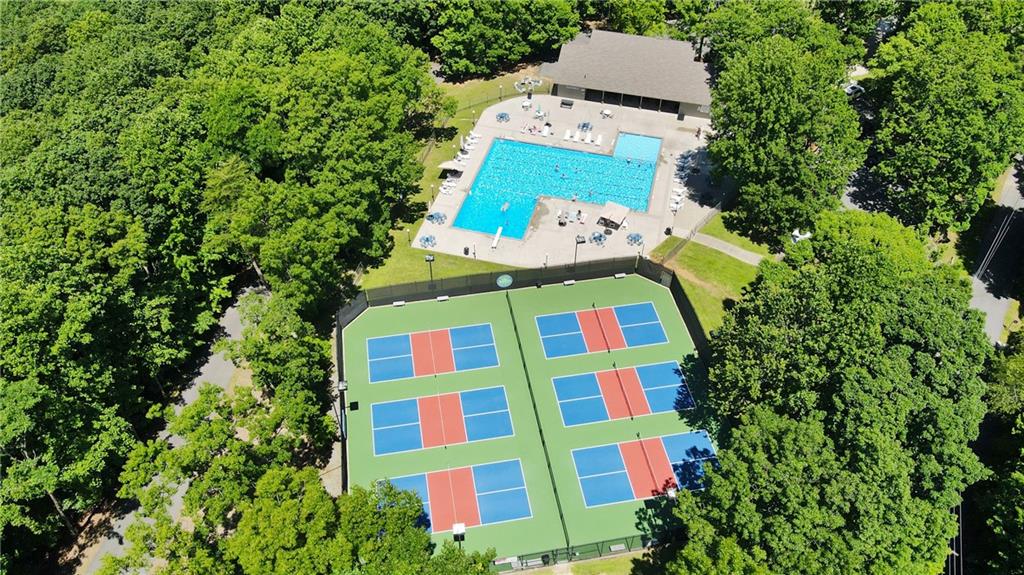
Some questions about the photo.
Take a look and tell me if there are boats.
No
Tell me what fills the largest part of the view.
trees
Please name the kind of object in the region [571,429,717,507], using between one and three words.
sports court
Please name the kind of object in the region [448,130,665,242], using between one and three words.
swimming pool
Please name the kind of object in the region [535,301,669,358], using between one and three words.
sports court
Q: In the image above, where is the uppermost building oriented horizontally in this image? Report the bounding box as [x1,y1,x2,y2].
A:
[551,30,713,117]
